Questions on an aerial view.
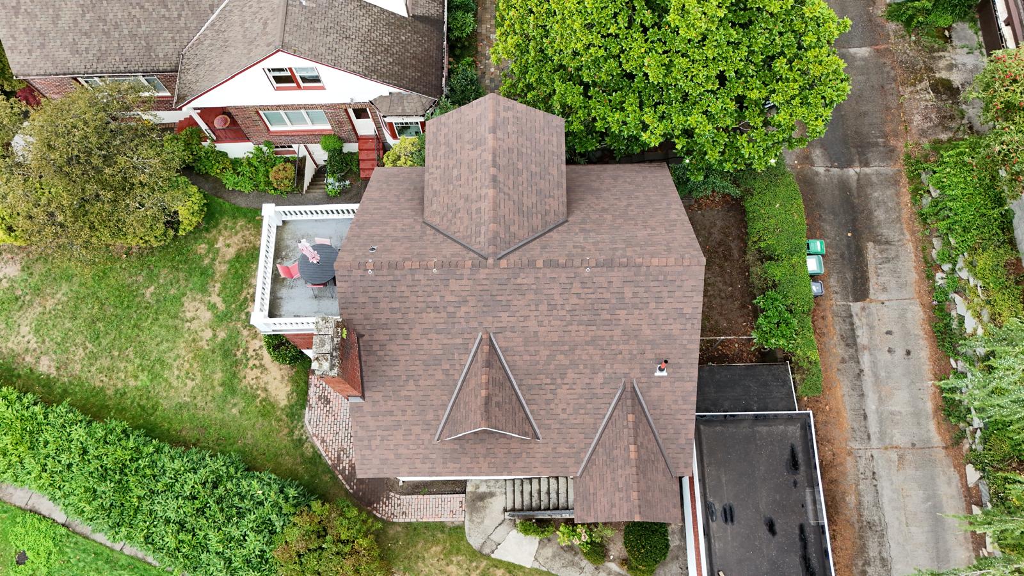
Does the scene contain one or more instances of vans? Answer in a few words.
No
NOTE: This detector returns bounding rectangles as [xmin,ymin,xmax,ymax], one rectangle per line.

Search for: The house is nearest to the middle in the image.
[304,92,706,523]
